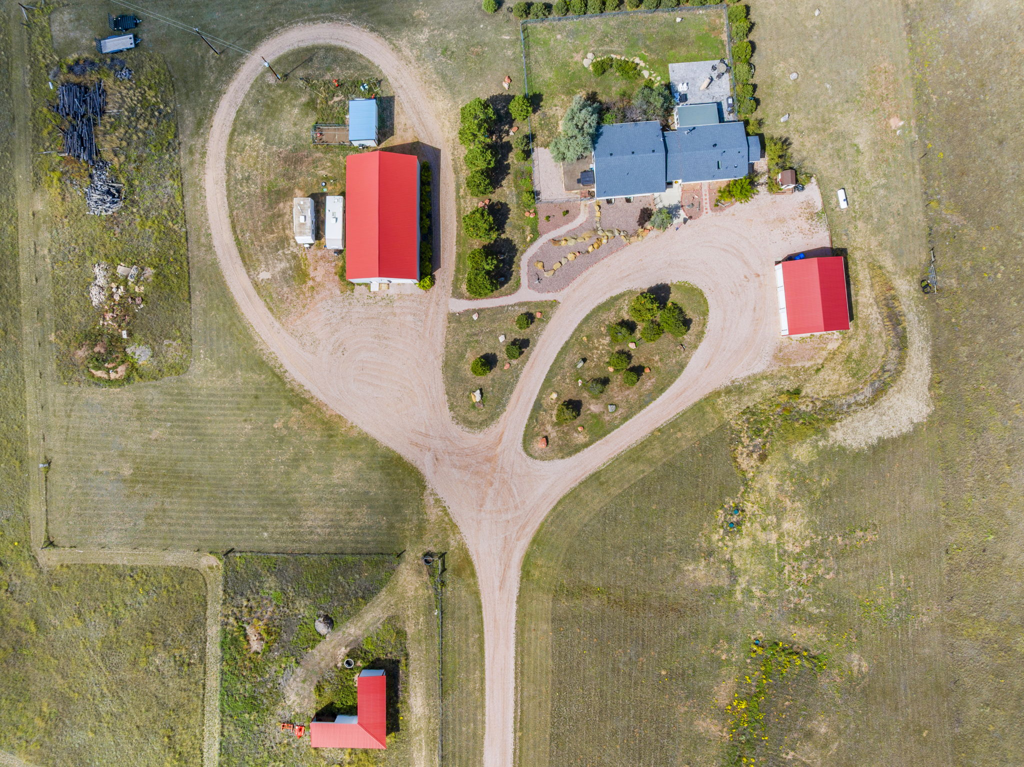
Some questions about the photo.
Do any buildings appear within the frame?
Yes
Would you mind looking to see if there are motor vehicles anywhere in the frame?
Yes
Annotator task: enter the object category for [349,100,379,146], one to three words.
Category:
shed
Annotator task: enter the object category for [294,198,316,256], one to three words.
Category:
vehicle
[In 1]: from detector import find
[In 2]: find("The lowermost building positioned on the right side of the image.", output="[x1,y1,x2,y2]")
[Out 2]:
[775,256,850,335]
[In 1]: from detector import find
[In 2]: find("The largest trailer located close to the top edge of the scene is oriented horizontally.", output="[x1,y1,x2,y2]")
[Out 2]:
[92,32,145,55]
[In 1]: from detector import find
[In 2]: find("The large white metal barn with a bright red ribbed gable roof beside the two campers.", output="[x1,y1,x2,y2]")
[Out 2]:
[346,150,419,284]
